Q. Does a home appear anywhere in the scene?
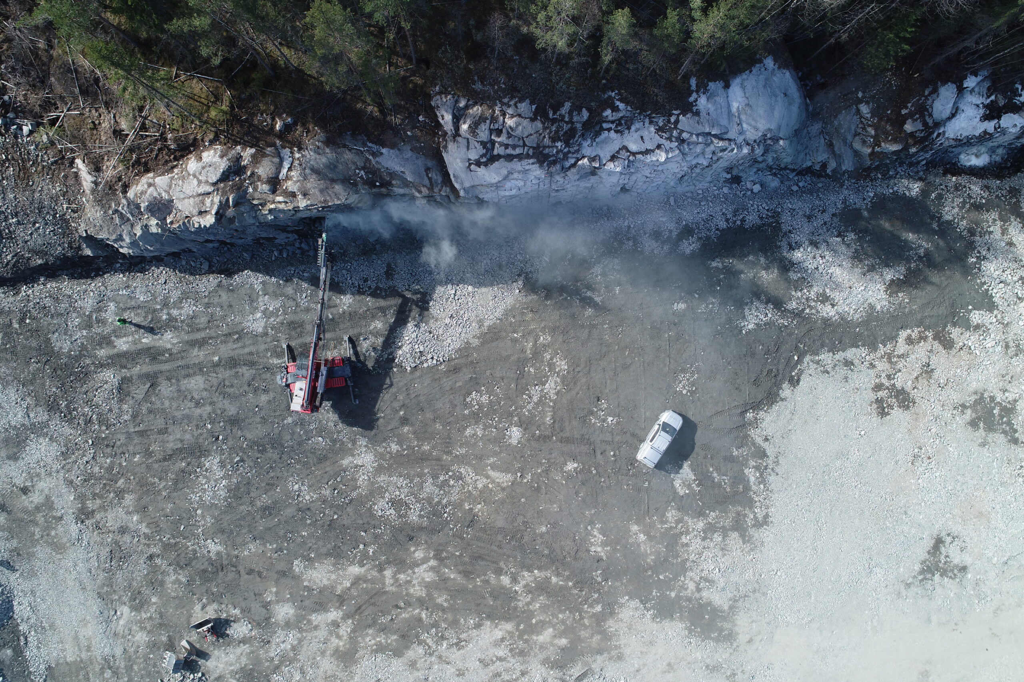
No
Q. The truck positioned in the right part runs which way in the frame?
diagonally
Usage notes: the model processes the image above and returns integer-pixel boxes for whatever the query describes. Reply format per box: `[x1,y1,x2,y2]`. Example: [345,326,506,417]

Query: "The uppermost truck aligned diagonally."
[635,411,684,470]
